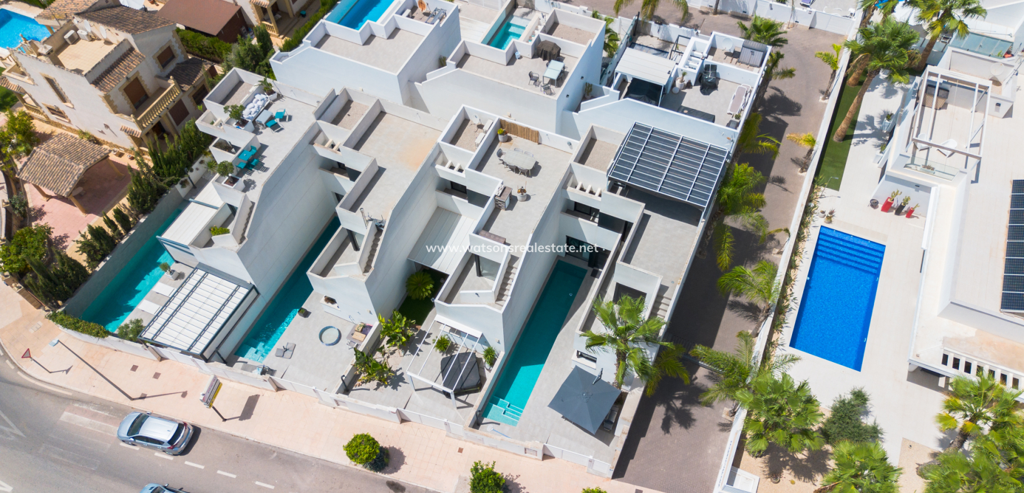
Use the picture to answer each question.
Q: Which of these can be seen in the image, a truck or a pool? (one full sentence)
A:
Of the two, only a pool appears.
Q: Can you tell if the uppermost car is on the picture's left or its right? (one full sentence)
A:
It is on the left.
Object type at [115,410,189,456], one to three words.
car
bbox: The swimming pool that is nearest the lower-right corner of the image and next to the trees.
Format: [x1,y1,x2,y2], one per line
[789,226,885,371]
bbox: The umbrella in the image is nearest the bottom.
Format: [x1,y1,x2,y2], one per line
[548,366,621,435]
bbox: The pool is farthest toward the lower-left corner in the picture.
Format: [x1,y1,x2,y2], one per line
[79,238,178,330]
